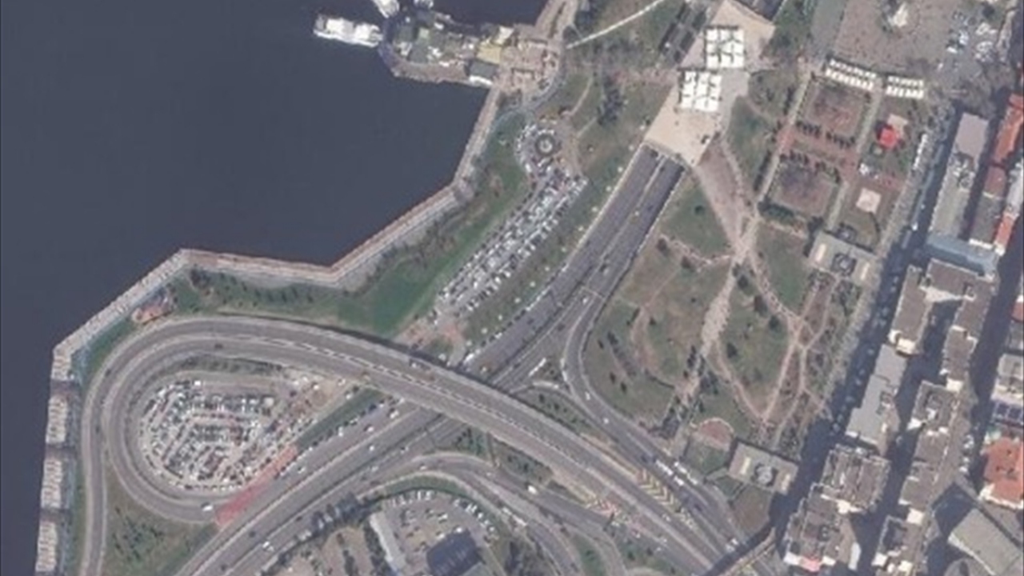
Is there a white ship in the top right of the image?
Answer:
No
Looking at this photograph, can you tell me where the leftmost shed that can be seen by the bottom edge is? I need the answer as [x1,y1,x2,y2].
[370,512,409,576]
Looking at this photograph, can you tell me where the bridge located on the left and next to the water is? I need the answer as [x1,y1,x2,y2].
[80,318,638,576]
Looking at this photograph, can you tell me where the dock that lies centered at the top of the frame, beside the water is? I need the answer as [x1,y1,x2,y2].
[380,9,516,87]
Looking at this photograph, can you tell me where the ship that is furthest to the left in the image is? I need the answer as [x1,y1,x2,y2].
[313,13,383,46]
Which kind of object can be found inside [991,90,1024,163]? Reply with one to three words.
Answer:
house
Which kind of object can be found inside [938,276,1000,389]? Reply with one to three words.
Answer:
building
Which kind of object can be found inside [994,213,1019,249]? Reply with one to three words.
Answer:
house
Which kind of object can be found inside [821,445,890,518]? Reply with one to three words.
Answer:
building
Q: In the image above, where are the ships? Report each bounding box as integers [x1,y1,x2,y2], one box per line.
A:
[375,0,403,18]
[413,0,435,9]
[313,13,383,46]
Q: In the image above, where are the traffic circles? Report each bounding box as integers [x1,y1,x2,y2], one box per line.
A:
[524,124,568,165]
